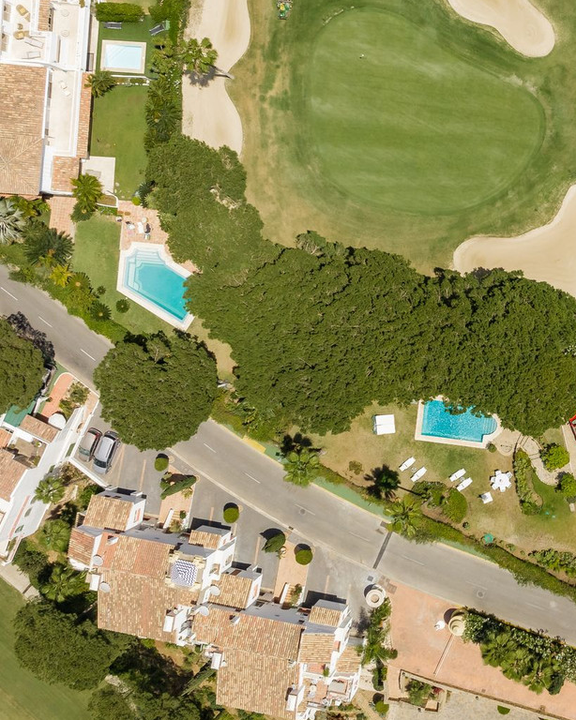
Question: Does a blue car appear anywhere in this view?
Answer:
No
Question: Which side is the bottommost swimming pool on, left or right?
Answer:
right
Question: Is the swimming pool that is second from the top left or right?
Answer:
left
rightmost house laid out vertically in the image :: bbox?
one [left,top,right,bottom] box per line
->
[297,594,367,720]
